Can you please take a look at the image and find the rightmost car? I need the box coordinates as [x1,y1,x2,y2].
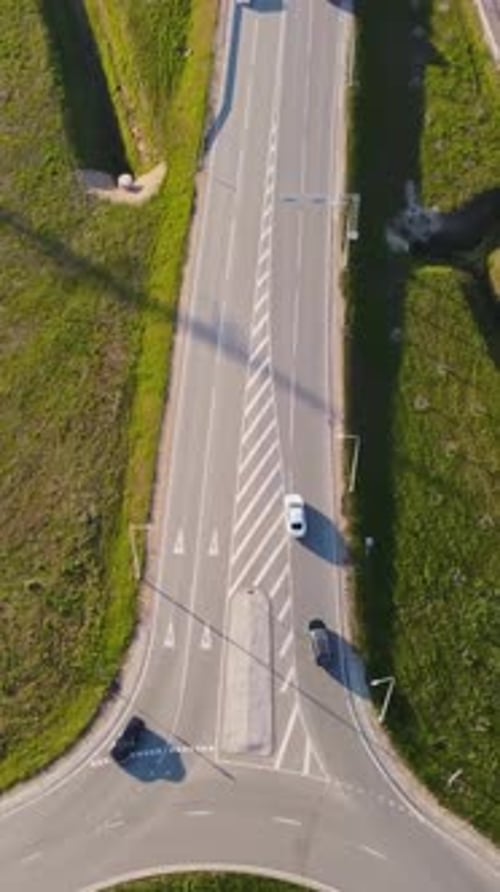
[308,622,335,671]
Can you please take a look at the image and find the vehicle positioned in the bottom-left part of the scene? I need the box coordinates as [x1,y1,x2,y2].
[107,714,148,771]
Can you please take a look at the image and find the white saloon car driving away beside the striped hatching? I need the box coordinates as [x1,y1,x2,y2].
[283,497,306,537]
